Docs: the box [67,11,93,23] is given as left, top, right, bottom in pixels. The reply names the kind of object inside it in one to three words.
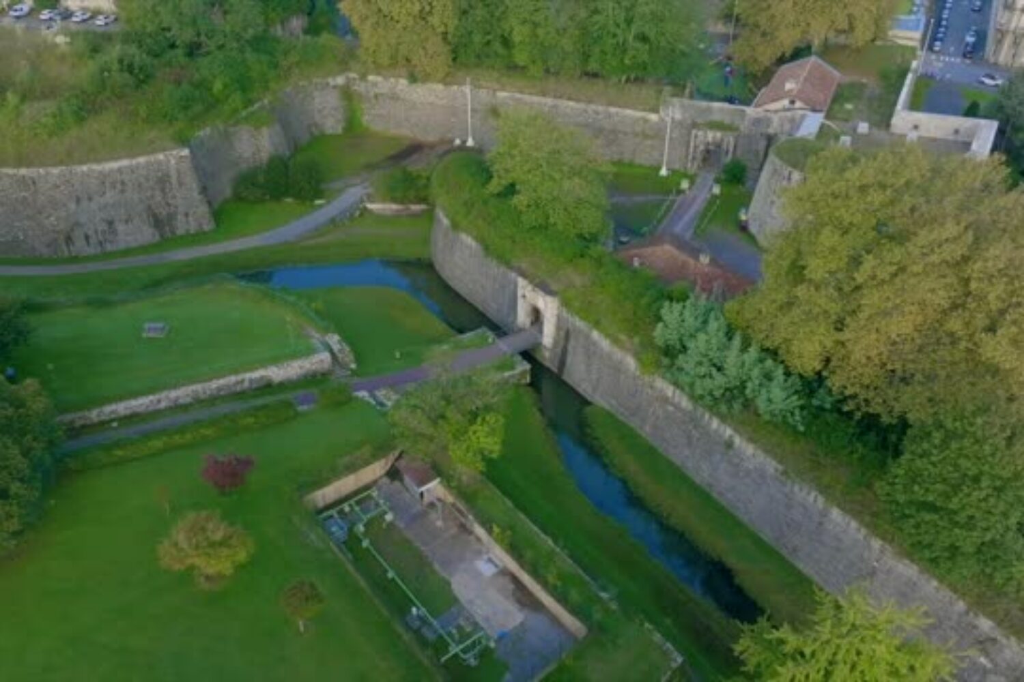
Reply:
vehicle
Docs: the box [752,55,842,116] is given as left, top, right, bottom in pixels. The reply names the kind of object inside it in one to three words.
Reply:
house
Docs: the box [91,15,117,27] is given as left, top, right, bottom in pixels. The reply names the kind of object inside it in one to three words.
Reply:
vehicle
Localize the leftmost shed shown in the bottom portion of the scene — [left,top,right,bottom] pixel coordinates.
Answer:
[396,456,442,505]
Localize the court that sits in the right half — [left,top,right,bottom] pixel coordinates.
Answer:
[888,0,927,48]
